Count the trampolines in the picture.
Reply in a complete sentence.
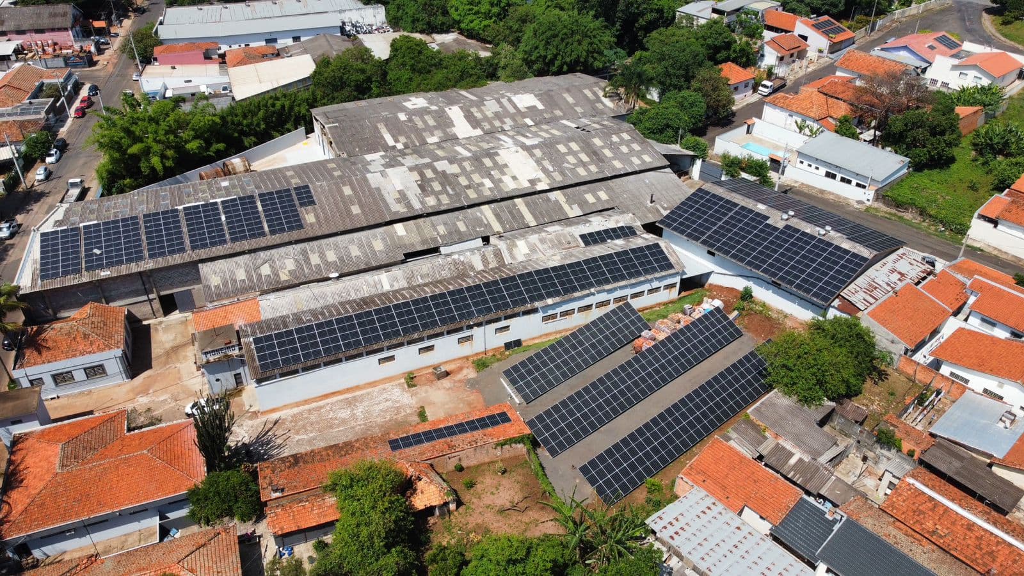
There are no trampolines in the image.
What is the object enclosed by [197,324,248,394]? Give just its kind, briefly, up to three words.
building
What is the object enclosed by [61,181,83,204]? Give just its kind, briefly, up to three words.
truck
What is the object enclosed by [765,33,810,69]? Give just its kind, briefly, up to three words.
house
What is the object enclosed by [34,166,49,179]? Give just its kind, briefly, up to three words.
vehicle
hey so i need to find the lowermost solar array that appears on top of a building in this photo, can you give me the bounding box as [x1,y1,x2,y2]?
[389,412,511,451]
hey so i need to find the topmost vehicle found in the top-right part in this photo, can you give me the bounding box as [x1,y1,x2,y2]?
[765,81,785,94]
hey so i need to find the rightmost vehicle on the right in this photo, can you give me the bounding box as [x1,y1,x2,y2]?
[912,250,947,269]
